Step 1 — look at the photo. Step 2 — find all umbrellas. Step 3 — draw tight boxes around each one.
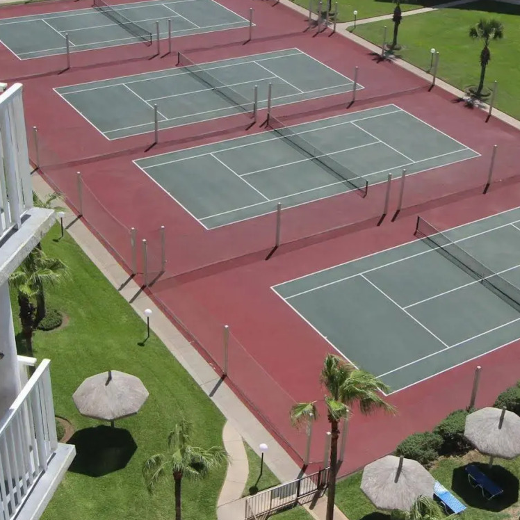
[459,405,520,466]
[357,453,441,519]
[69,371,147,432]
